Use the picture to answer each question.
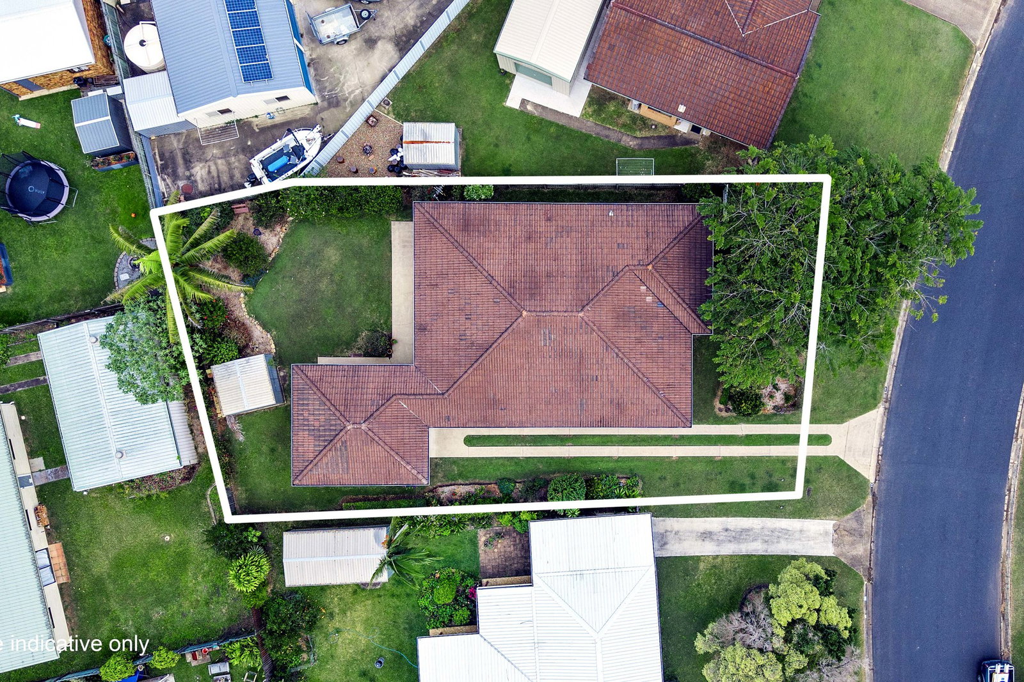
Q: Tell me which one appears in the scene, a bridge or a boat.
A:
boat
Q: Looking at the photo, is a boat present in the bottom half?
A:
No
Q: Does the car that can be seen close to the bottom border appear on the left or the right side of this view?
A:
right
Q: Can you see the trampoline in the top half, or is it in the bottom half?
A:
top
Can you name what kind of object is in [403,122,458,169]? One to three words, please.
shed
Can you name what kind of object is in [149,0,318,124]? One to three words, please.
building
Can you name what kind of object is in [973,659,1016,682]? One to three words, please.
car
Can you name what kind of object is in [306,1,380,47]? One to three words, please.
trailer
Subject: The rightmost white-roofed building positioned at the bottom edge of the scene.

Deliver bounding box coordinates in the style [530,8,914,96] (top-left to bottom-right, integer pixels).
[415,509,665,682]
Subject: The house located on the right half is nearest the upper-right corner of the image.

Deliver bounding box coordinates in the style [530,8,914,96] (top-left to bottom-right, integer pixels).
[581,0,820,149]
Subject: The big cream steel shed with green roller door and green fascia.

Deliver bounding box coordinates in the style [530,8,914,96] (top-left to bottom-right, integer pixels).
[492,0,606,92]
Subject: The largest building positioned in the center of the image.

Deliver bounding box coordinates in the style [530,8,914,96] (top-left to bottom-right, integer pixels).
[290,199,715,488]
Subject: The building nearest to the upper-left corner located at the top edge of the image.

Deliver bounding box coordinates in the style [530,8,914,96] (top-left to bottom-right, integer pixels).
[0,0,115,96]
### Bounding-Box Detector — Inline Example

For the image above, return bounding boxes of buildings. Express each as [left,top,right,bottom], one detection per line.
[0,0,115,96]
[211,355,288,418]
[403,122,458,169]
[492,0,606,92]
[581,0,820,149]
[415,509,665,682]
[36,311,199,491]
[283,523,393,593]
[290,199,715,488]
[149,0,318,124]
[0,401,70,675]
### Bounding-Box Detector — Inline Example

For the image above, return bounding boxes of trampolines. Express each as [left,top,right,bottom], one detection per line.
[0,150,85,232]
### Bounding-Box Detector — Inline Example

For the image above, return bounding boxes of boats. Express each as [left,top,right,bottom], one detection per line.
[242,126,328,185]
